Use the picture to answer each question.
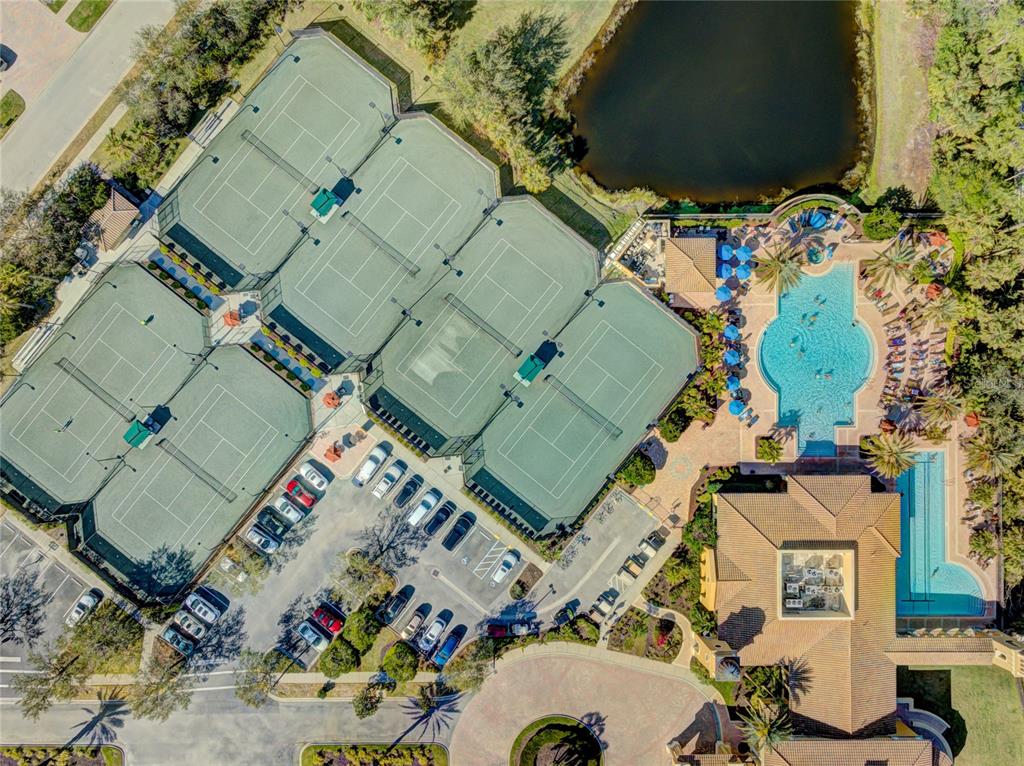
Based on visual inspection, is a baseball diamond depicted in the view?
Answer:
No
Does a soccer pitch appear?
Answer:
No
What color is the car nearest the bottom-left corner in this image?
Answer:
white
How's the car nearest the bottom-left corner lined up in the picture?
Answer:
on a diagonal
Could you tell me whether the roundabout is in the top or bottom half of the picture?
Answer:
bottom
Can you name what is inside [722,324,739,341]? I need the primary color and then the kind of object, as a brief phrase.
blue umbrella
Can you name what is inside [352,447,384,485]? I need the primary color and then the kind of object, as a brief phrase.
white car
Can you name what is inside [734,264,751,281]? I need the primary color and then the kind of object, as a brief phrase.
blue umbrella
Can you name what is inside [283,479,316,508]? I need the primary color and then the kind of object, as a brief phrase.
red car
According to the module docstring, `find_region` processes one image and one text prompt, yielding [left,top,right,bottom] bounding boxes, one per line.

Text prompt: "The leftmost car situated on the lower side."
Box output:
[65,594,94,626]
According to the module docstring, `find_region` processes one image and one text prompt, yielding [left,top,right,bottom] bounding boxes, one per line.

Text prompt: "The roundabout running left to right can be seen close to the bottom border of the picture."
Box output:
[449,653,719,766]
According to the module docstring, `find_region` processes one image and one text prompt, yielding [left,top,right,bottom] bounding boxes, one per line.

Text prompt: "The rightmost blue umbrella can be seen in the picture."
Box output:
[806,210,826,229]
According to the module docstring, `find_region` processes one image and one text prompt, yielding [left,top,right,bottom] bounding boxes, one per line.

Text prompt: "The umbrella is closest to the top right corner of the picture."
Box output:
[927,231,945,248]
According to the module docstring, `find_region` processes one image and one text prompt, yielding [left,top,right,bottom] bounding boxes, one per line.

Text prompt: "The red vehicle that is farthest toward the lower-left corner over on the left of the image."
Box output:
[309,607,342,636]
